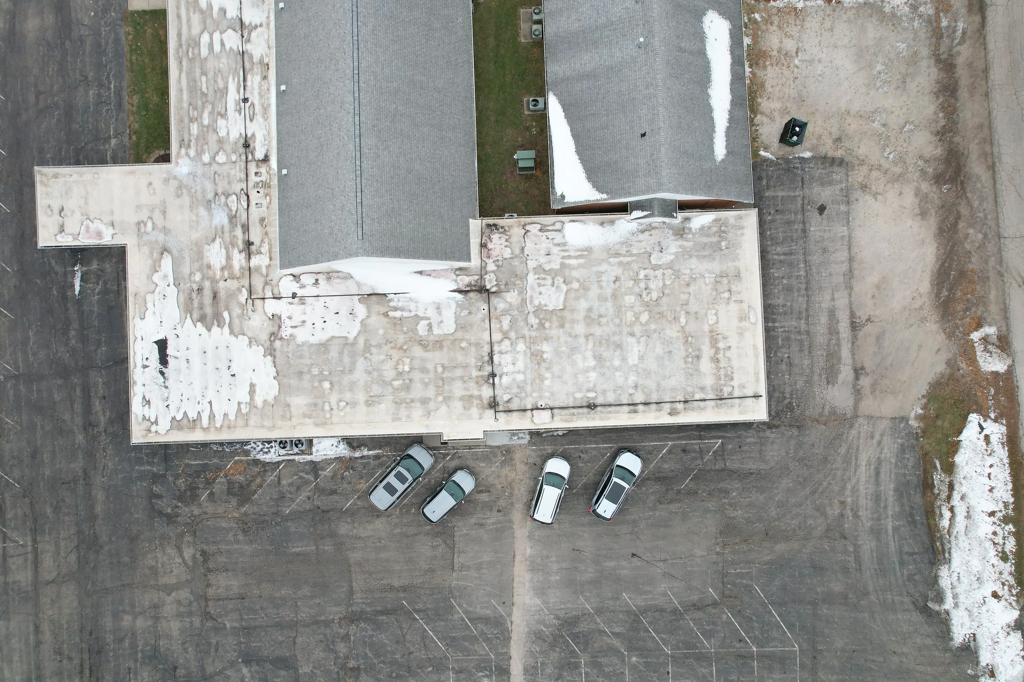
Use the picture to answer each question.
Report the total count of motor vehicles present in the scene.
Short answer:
4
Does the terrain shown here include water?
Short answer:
No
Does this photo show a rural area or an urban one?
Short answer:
urban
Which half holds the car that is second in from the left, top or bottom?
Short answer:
bottom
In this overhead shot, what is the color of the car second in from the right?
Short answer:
white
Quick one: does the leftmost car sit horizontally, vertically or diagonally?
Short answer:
diagonally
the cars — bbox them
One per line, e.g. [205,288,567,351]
[368,444,431,511]
[420,468,475,526]
[590,452,641,521]
[530,456,570,524]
